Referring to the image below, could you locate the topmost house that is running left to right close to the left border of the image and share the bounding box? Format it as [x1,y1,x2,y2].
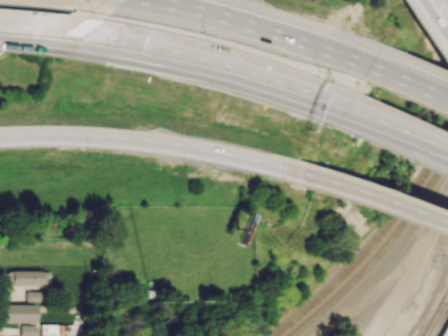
[10,271,51,290]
